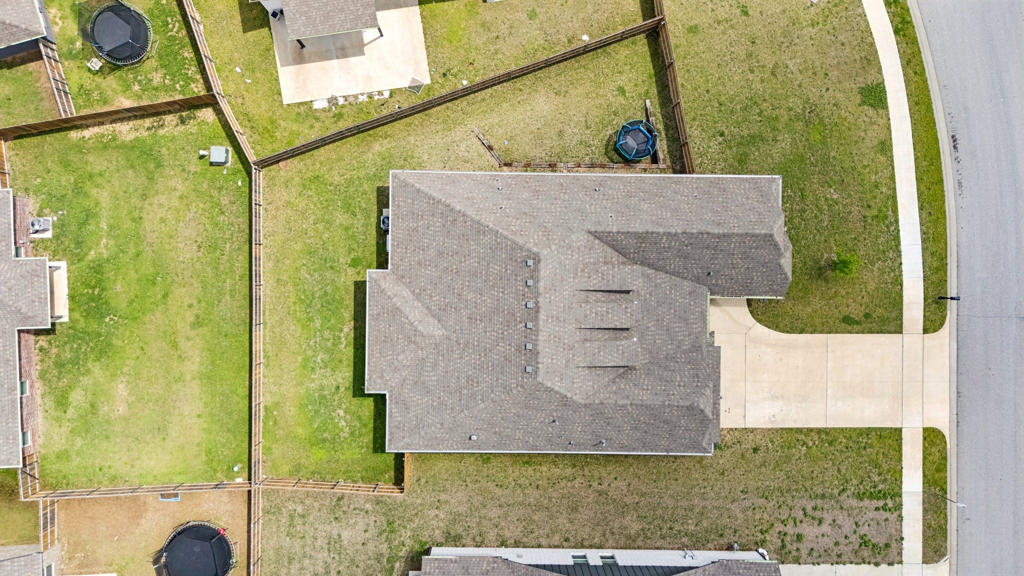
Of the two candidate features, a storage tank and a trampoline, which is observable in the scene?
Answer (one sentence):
Of the two, only a trampoline appears.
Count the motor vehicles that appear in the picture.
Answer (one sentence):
There are no motor vehicles in this view.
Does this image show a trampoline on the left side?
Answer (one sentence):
Yes, a trampoline shows up on the left side.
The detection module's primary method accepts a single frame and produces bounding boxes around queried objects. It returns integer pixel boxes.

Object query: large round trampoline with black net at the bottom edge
[149,520,239,576]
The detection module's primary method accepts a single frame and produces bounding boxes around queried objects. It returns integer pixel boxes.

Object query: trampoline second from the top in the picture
[616,119,658,161]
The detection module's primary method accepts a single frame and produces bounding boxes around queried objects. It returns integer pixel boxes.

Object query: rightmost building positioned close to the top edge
[281,0,384,50]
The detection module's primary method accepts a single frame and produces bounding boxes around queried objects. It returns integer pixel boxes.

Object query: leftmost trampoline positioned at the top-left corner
[77,0,158,68]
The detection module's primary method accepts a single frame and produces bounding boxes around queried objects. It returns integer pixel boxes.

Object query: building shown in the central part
[363,168,792,458]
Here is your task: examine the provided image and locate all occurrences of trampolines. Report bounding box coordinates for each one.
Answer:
[77,0,158,68]
[149,520,239,576]
[616,119,658,161]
